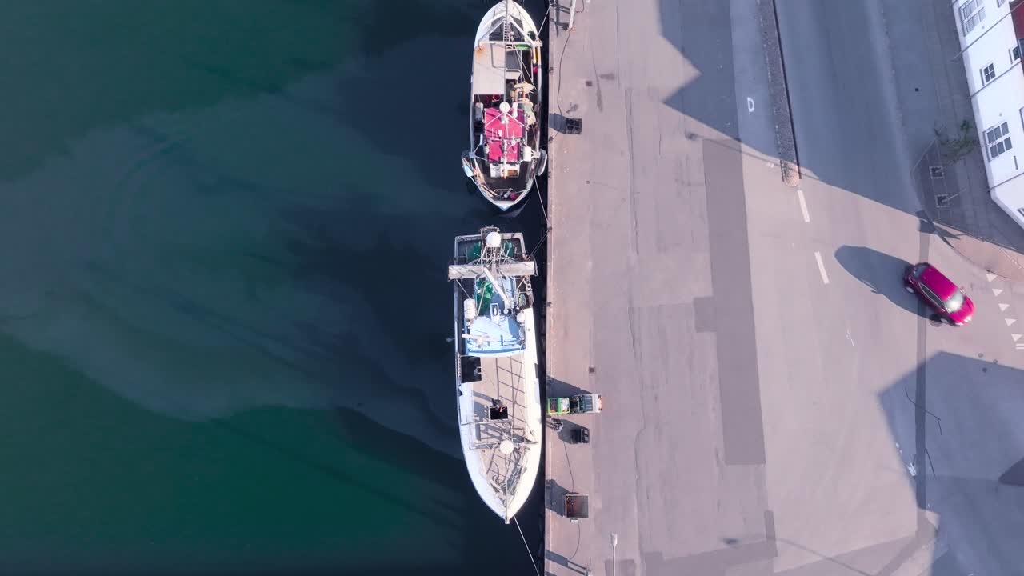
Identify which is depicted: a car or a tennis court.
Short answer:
car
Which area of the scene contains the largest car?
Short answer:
right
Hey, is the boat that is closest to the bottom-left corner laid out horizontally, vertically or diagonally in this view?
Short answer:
vertically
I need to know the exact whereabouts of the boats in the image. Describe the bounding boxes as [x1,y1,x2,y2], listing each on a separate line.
[461,0,548,211]
[447,224,542,526]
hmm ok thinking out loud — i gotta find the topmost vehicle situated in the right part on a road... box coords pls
[903,262,976,327]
